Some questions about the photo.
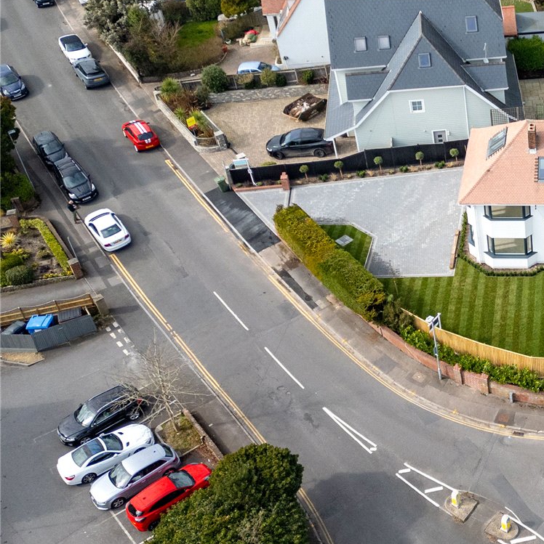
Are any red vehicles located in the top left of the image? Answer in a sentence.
Yes, there is a red vehicle in the top left of the image.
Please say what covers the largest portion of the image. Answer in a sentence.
The scene is dominated by paved ground.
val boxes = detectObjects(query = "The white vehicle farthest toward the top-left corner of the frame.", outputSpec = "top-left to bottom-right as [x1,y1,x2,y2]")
[57,33,92,65]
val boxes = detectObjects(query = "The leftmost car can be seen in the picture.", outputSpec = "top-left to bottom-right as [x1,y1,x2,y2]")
[0,60,31,100]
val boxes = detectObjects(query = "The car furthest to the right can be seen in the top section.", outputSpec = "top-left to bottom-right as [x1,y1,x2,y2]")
[265,127,334,157]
